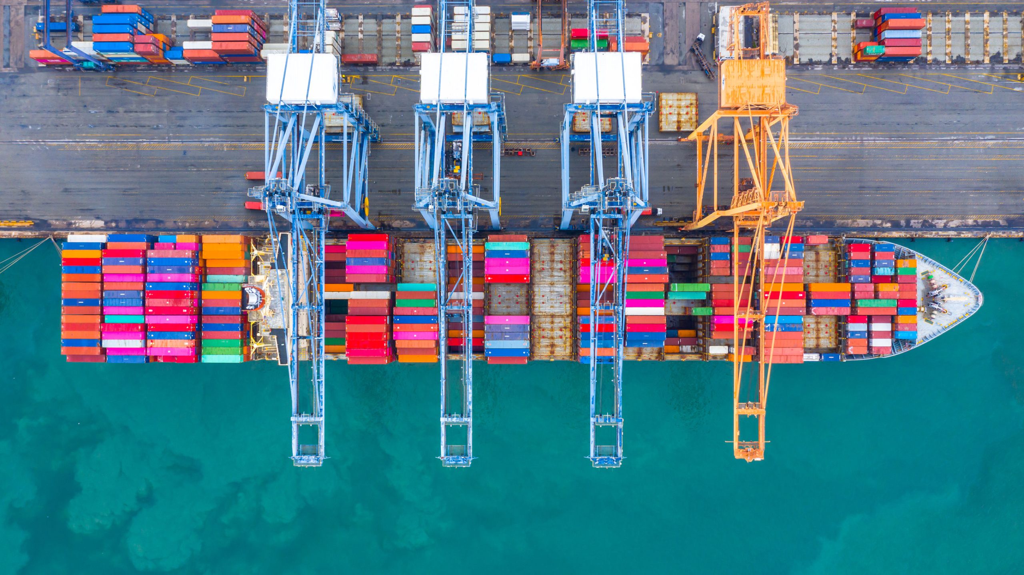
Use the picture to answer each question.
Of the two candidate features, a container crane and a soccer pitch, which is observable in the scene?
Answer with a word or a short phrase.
container crane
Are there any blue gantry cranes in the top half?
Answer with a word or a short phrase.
Yes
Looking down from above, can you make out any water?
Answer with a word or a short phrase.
Yes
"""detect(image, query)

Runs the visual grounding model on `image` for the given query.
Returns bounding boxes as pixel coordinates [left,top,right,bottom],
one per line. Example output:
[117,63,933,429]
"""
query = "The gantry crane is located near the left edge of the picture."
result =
[40,0,110,69]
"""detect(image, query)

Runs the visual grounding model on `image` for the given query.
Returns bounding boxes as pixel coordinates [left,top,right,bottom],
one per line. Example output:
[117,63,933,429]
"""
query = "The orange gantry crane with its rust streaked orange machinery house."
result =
[673,0,806,467]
